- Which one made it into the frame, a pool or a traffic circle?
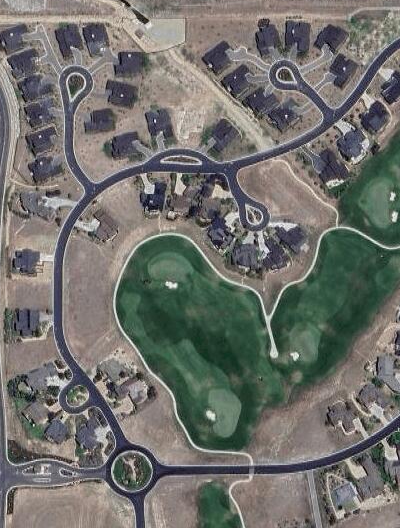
traffic circle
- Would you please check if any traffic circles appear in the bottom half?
Yes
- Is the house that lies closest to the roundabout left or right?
left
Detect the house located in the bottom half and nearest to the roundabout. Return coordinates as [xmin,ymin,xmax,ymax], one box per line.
[70,411,108,453]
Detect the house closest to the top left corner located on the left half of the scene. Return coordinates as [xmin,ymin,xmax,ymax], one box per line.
[0,22,28,51]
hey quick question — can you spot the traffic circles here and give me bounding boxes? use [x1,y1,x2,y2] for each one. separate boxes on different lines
[102,440,165,504]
